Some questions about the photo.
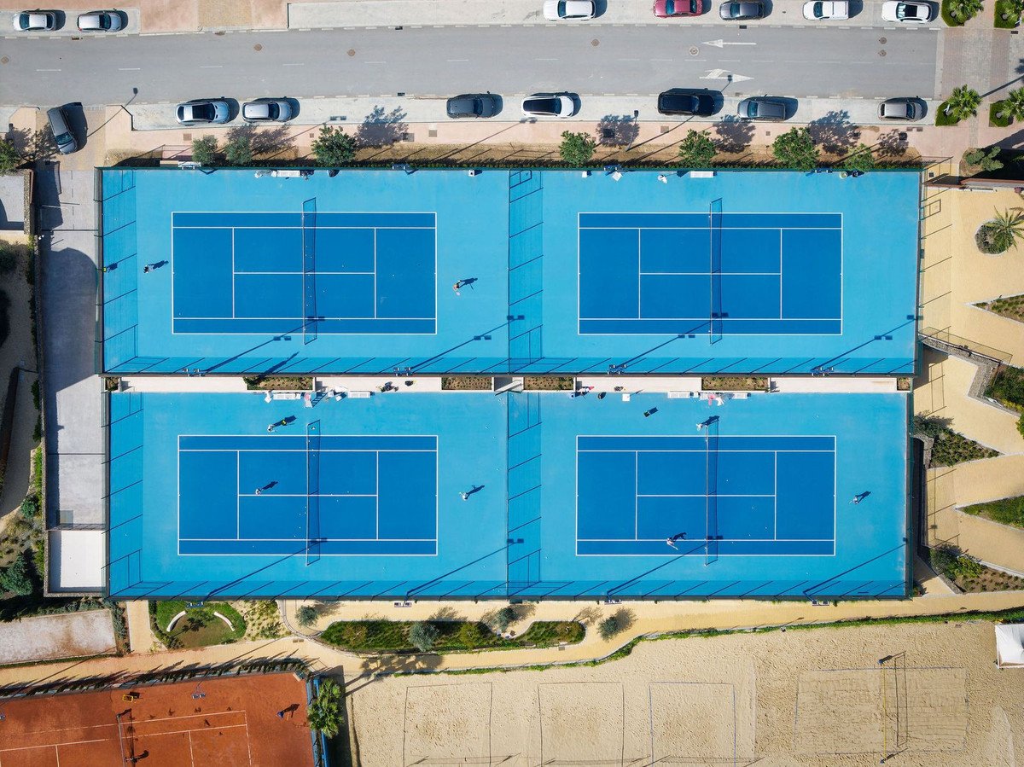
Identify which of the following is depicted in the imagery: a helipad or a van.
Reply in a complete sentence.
The one in the frame is a van.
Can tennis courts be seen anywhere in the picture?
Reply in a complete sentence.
Yes, the picture does show a tennis court.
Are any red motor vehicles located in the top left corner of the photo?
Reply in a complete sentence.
No, looking in the top left corner of the photo, there is no red motor vehicle.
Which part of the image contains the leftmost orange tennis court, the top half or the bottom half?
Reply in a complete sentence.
You can find the leftmost orange tennis court in the bottom half.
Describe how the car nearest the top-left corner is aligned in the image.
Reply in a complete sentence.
What the image shows is the car nearest the top-left corner lying from side to side.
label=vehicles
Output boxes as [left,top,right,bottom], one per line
[545,0,595,19]
[522,93,573,117]
[42,103,79,153]
[243,98,288,121]
[75,8,120,31]
[804,0,851,19]
[654,0,702,17]
[176,100,228,123]
[447,92,494,117]
[738,96,788,119]
[659,89,714,115]
[881,97,922,120]
[719,0,766,20]
[11,9,53,31]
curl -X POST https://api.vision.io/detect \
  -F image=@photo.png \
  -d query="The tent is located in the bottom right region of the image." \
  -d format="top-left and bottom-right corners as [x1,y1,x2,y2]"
[997,624,1024,672]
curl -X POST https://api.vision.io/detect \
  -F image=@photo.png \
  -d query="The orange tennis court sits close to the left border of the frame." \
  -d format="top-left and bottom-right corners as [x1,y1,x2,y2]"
[0,672,312,767]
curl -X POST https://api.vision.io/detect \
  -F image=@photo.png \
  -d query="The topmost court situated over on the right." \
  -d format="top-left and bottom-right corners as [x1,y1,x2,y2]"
[510,169,919,374]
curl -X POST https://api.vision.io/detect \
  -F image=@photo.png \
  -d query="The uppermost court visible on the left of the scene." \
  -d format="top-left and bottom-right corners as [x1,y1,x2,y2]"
[102,169,509,374]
